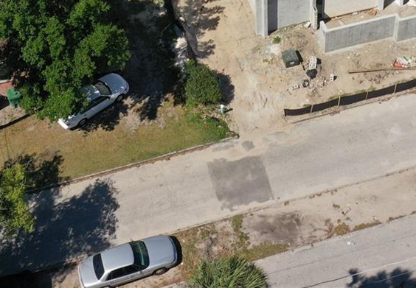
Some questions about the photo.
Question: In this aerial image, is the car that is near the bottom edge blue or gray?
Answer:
gray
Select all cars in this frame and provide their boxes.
[52,77,137,138]
[75,232,180,288]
